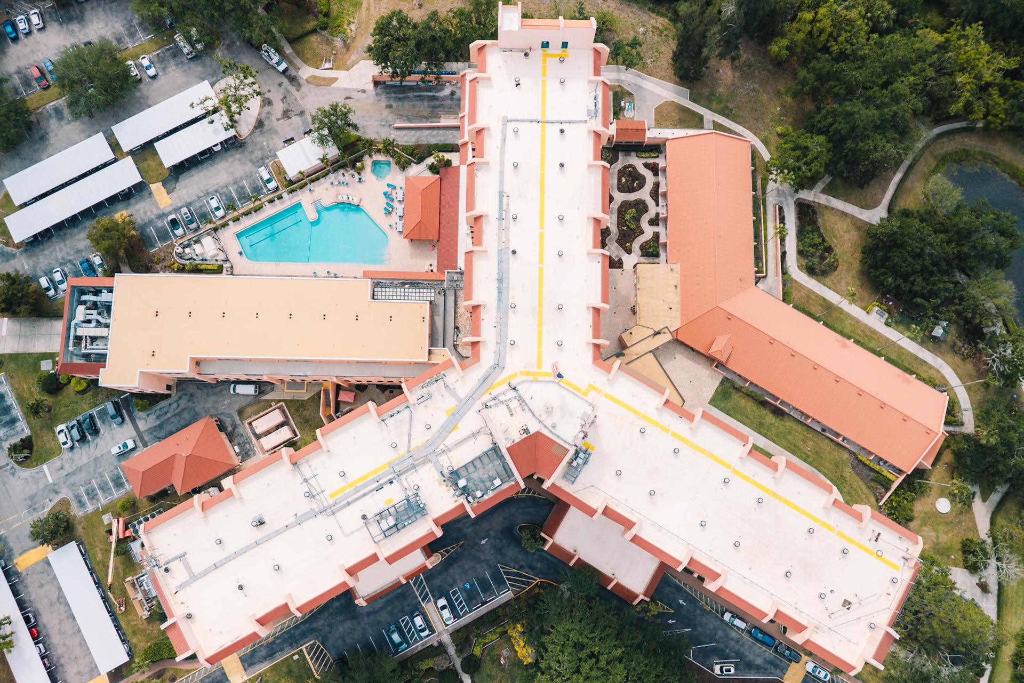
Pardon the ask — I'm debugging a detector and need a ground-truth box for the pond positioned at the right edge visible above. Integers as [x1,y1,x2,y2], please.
[940,164,1024,329]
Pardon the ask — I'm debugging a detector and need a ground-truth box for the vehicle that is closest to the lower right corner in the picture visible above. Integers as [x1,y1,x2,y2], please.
[802,658,832,683]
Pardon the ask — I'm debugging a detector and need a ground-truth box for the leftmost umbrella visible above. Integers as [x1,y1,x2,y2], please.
[338,391,355,403]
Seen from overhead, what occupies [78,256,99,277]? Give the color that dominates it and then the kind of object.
blue car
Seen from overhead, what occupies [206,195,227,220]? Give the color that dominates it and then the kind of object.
white car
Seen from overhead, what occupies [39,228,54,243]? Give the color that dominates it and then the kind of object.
black car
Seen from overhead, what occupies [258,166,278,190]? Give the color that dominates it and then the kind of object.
white car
